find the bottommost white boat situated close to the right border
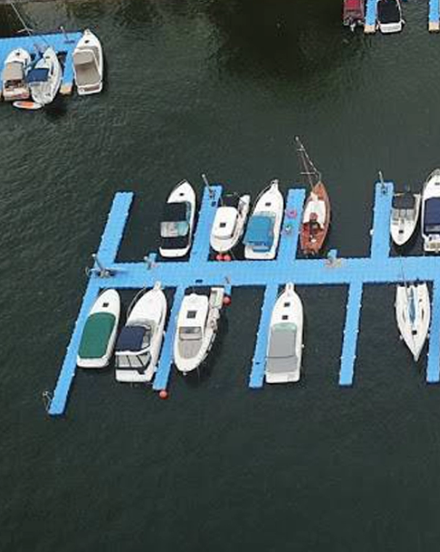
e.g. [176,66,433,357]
[395,267,433,362]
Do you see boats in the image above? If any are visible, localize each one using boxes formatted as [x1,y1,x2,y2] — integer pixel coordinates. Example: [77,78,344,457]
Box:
[388,195,419,255]
[291,136,331,257]
[377,0,408,38]
[170,285,229,379]
[342,0,364,31]
[113,280,170,392]
[12,2,63,112]
[210,194,256,257]
[76,287,126,372]
[409,167,440,258]
[395,267,433,362]
[263,278,341,390]
[1,50,39,104]
[157,175,202,262]
[74,32,107,103]
[243,176,288,260]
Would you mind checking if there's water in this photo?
Yes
